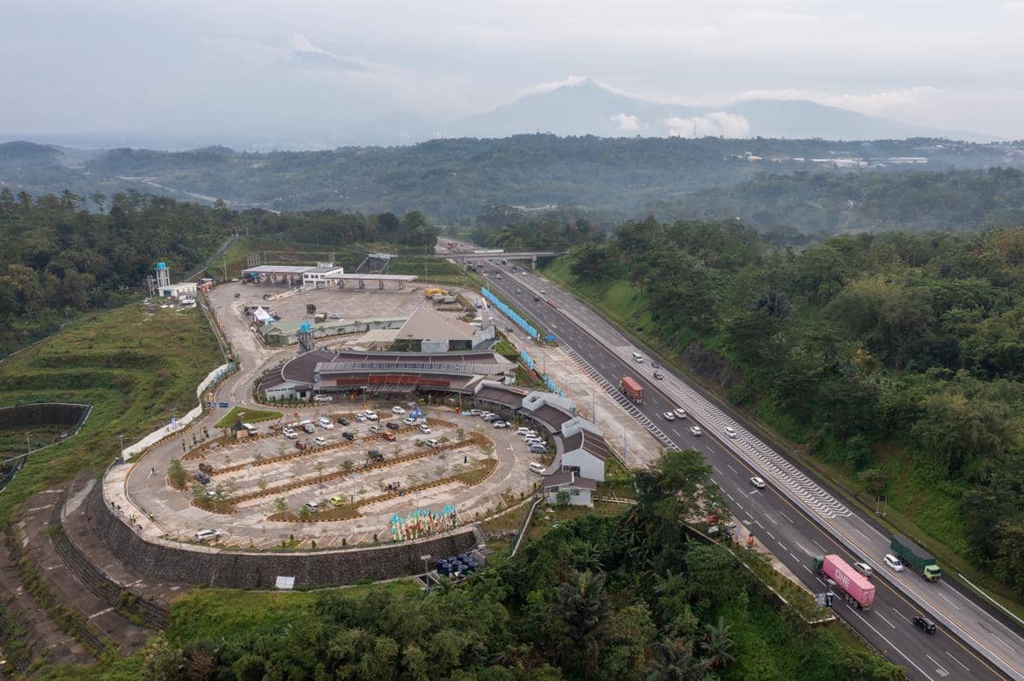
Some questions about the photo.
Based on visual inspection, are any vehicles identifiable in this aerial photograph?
Yes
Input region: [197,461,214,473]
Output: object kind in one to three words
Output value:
vehicle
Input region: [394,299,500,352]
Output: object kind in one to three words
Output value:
building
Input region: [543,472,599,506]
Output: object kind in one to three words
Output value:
house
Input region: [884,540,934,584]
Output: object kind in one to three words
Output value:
truck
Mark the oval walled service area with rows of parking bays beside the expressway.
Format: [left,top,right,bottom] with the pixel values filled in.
[105,263,842,619]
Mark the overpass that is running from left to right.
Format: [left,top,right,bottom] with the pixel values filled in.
[356,250,560,264]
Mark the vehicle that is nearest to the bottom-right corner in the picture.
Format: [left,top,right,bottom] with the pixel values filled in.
[911,616,939,634]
